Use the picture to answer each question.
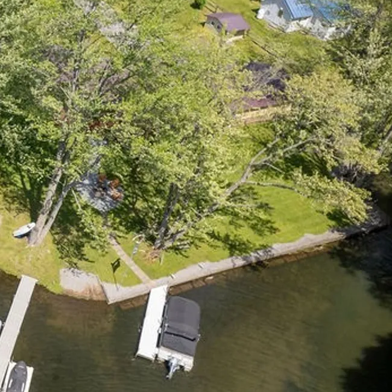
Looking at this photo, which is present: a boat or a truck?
boat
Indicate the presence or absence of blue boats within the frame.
No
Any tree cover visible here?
Yes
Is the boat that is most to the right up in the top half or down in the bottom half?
bottom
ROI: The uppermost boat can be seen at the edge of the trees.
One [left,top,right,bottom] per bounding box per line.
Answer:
[12,220,36,237]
